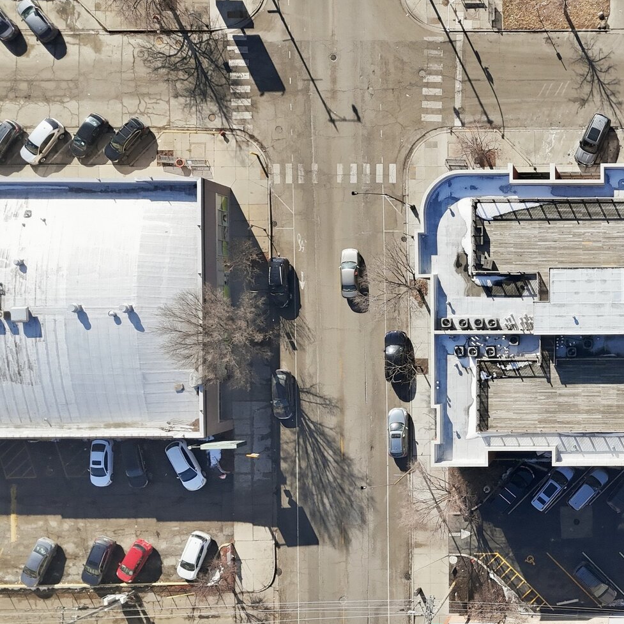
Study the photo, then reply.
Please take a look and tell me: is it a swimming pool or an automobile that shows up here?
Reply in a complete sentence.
Looking from above, you can make out an automobile.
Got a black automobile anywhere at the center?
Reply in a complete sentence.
Yes, there is a black automobile at the center.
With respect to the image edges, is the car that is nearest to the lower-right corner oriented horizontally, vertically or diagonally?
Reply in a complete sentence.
Seen from above, the car that is nearest to the lower-right corner lies diagonally.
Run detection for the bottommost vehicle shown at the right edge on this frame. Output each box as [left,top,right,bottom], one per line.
[572,558,619,608]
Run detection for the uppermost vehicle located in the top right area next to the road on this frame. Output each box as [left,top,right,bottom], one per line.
[577,114,611,166]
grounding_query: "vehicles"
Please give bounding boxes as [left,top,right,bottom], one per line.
[0,1,28,52]
[25,117,66,165]
[178,529,213,580]
[269,368,296,419]
[486,465,535,514]
[384,407,410,458]
[87,437,117,489]
[529,467,575,513]
[18,0,62,47]
[105,114,150,165]
[266,256,293,308]
[120,537,155,582]
[337,248,362,298]
[0,115,32,165]
[386,329,411,383]
[23,534,60,587]
[165,437,208,491]
[72,110,113,163]
[577,114,611,166]
[565,467,610,514]
[121,437,153,489]
[572,558,619,608]
[81,535,117,586]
